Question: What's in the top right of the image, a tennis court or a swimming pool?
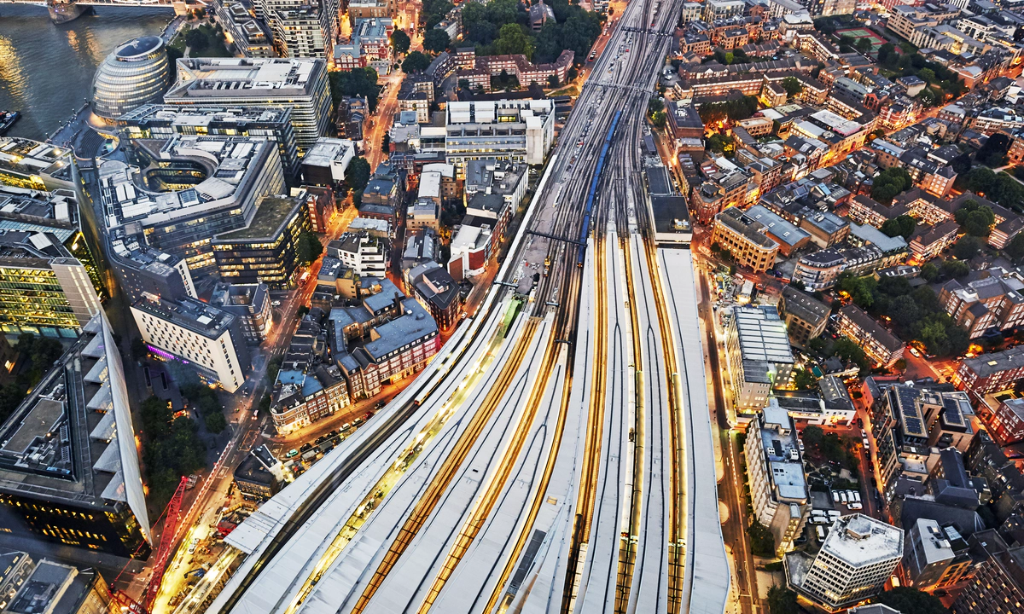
tennis court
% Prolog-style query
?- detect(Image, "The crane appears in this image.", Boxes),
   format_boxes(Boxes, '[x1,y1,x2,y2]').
[112,477,198,614]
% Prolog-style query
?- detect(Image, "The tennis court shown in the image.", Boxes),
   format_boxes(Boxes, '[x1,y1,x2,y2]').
[834,26,903,66]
